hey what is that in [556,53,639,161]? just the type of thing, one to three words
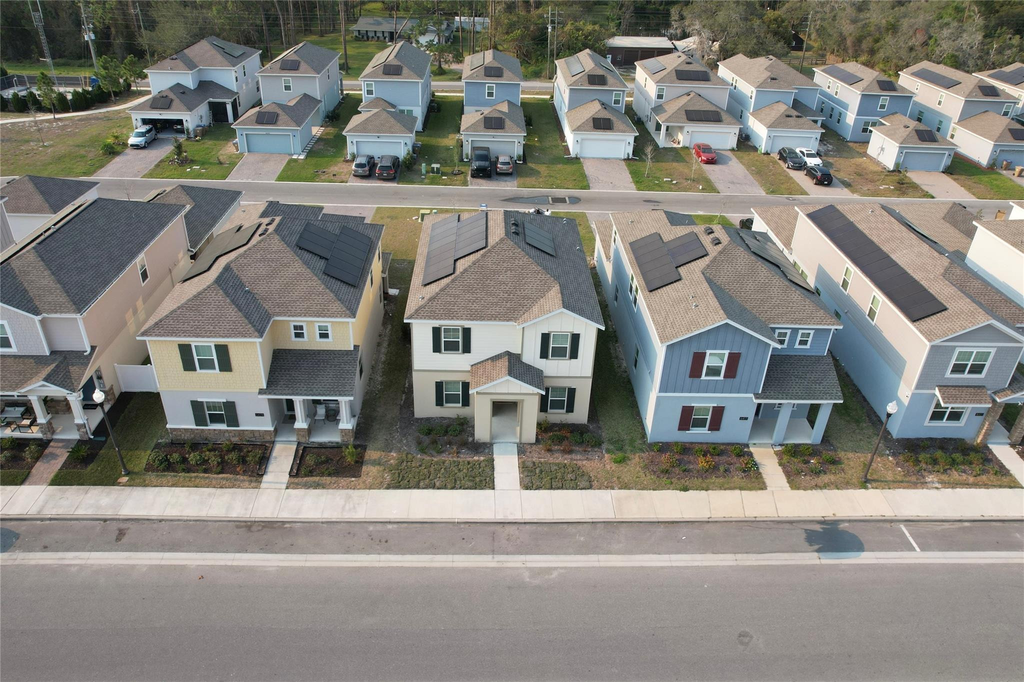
house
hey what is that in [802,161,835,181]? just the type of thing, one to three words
car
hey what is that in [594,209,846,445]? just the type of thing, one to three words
house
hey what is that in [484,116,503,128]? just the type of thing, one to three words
solar array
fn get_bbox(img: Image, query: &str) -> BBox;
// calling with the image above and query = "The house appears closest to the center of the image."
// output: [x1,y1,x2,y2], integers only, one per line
[401,202,607,443]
